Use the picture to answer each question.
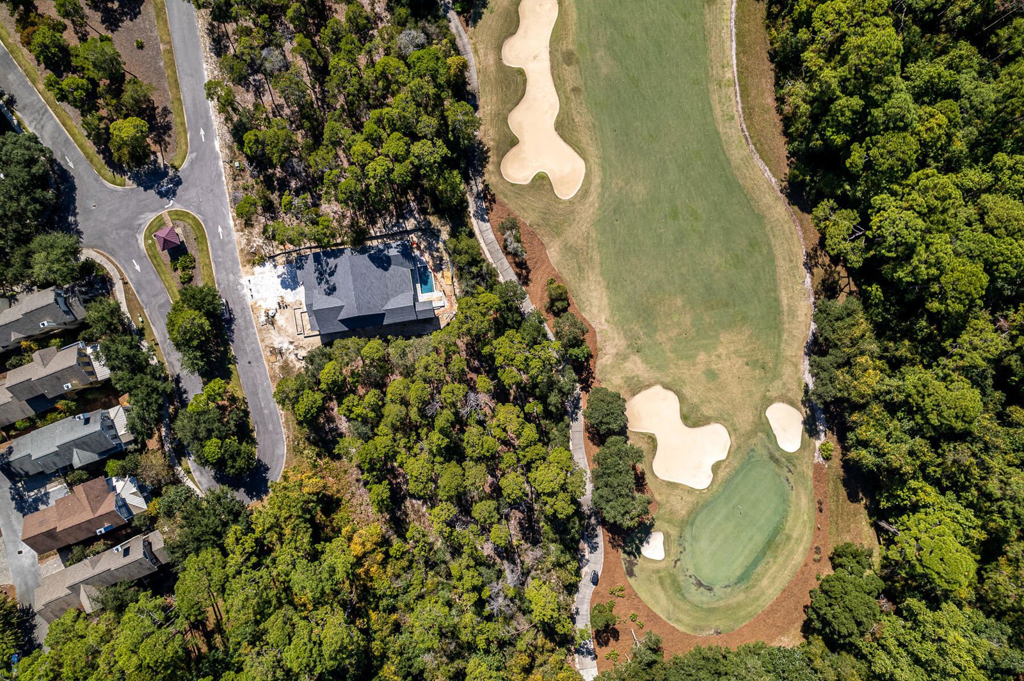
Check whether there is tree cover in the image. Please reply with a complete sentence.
Yes, some tree cover is visible.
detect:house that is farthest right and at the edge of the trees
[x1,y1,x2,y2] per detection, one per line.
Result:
[295,239,438,334]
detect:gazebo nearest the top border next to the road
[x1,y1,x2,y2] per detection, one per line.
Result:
[148,222,188,253]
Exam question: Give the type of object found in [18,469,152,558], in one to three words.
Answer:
house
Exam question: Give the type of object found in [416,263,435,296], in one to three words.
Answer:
swimming pool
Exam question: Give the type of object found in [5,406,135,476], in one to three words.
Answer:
house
